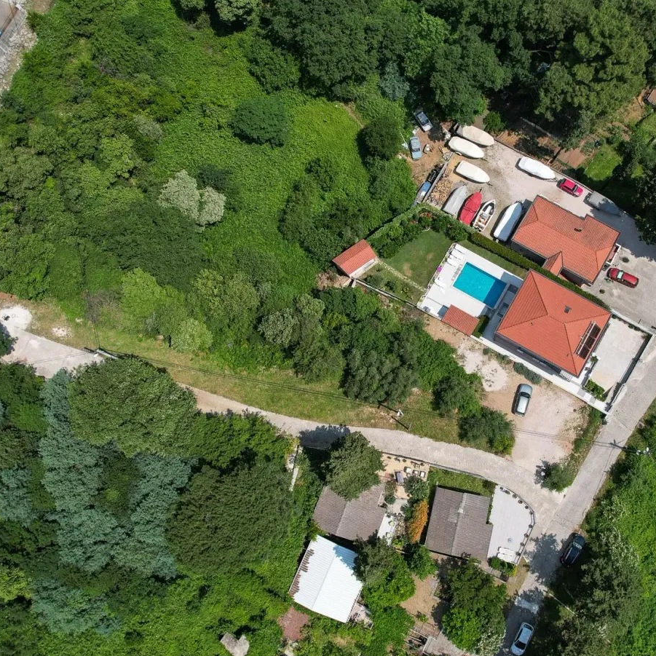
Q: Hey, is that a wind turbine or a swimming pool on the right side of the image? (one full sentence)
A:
The one visible on the right side of the image is a swimming pool.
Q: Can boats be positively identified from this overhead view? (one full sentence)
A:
Yes, a boat can be made out from above.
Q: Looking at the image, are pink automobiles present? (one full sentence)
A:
Yes, a pink automobile is visible in the scene.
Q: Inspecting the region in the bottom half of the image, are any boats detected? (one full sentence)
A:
No, there is no boat in the bottom half of the image.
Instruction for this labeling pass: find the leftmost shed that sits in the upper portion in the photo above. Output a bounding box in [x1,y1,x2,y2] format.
[337,240,377,279]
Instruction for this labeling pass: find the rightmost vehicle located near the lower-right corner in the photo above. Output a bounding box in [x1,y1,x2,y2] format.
[559,533,585,566]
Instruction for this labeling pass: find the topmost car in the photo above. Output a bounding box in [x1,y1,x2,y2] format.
[413,110,432,133]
